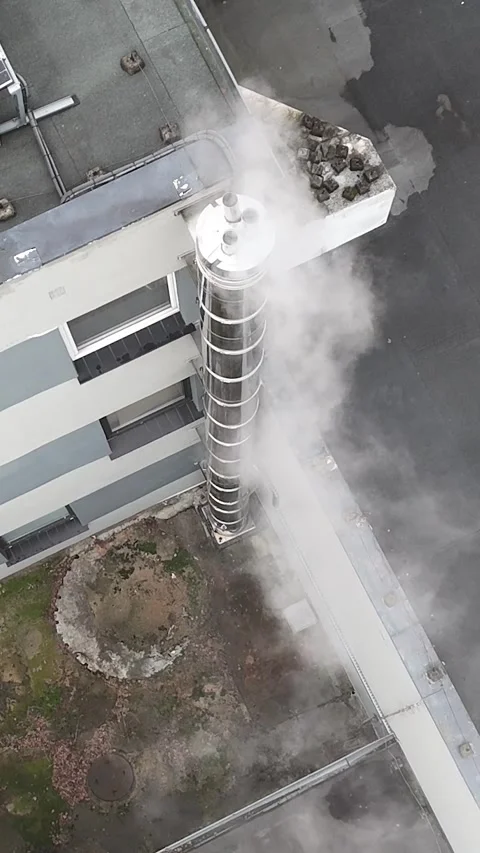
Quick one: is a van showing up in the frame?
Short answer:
No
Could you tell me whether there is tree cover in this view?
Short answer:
No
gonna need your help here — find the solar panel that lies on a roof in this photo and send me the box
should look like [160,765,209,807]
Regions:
[0,42,36,117]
